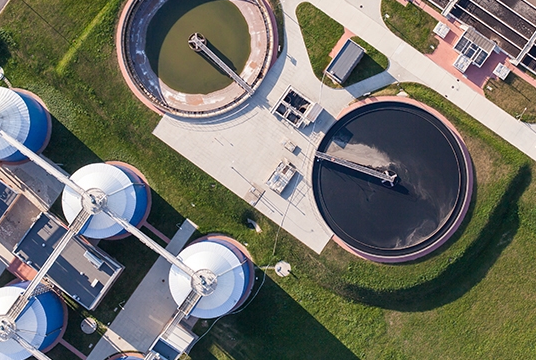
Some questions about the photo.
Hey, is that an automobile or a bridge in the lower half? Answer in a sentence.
It is a bridge that can be seen in the lower half.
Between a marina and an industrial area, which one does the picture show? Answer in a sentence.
The area seen from above is an industrial area.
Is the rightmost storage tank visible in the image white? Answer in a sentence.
No, the rightmost storage tank is actually black.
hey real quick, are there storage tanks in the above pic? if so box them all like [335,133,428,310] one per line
[314,98,474,263]
[61,160,150,240]
[0,276,65,360]
[117,0,277,115]
[168,235,252,320]
[0,85,50,166]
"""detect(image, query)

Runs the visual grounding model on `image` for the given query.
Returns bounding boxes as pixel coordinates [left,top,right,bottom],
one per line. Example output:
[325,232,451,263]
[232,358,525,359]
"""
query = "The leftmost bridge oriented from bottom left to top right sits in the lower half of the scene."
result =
[8,209,92,318]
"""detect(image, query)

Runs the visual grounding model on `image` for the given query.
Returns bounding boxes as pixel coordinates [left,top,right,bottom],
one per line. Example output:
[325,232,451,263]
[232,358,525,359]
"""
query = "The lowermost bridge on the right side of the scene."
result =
[318,151,396,184]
